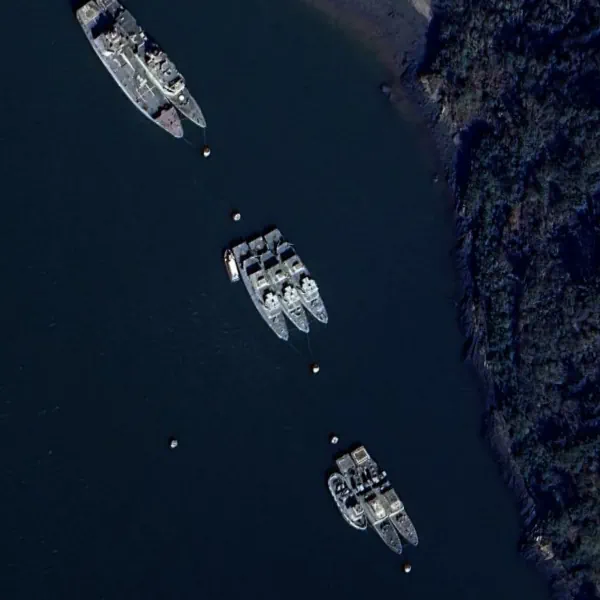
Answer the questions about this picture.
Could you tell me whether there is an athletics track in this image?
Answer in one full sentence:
No, this view has no athletics track in it.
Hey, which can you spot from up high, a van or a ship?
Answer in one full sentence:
Visible in the photo is a ship.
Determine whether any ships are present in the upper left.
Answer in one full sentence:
Yes, a ship is visible in the upper left.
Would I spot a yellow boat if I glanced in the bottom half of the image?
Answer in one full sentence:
No, no yellow boat is visible in the bottom half of the image.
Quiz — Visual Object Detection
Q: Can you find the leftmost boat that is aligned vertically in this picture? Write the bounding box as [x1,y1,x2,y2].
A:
[227,248,240,281]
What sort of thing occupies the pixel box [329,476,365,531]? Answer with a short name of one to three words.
boat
